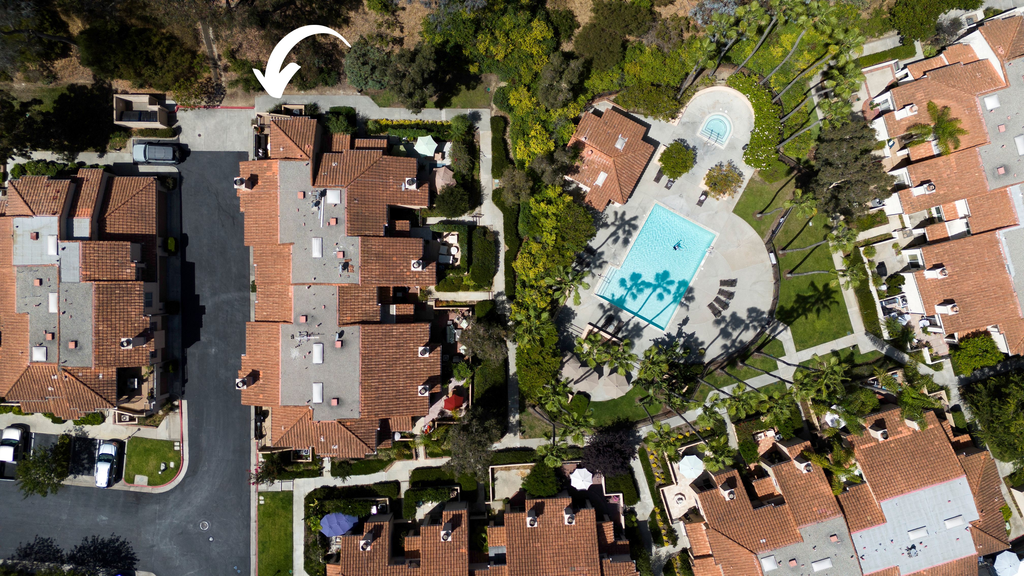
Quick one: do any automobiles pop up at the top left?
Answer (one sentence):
Yes, you'll find an automobile at the top left.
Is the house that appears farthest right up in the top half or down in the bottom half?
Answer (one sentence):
You can find the house that appears farthest right in the top half.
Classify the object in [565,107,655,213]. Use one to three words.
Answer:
building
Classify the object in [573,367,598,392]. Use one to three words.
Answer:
umbrella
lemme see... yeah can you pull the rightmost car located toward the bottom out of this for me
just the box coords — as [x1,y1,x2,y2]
[92,443,118,489]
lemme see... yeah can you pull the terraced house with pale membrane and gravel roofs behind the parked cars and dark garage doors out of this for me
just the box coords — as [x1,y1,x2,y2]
[0,168,180,424]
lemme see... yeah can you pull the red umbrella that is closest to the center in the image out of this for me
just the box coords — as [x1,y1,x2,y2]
[447,392,462,410]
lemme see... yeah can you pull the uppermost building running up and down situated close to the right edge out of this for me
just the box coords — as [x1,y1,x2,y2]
[869,14,1024,355]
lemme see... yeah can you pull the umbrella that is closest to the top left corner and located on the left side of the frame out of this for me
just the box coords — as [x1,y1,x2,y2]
[392,144,408,157]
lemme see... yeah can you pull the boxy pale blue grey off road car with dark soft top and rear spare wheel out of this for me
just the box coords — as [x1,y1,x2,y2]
[131,141,174,163]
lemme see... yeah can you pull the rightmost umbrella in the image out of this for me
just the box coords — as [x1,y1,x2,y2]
[992,551,1020,576]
